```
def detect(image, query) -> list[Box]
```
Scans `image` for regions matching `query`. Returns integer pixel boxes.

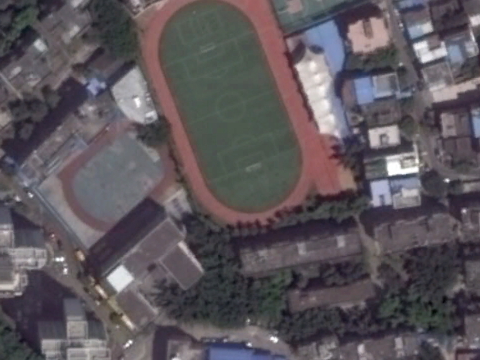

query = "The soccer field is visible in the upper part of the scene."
[163,0,302,213]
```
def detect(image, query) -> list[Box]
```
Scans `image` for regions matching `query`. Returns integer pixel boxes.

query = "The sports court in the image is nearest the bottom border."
[71,133,164,221]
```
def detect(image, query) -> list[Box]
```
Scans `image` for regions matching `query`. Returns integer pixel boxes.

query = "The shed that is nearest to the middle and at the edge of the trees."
[165,187,193,221]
